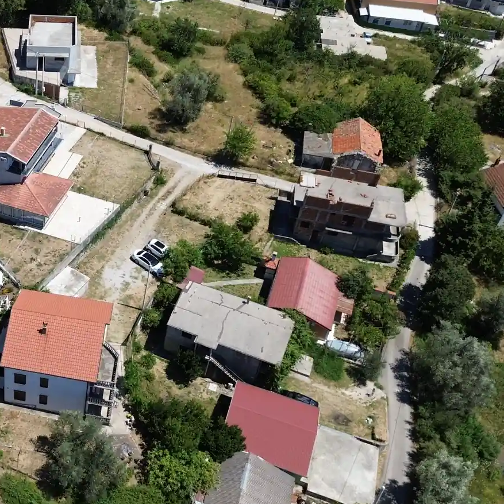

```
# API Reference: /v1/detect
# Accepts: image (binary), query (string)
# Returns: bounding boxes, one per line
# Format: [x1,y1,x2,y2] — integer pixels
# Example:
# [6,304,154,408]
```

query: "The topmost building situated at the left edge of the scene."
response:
[23,13,82,72]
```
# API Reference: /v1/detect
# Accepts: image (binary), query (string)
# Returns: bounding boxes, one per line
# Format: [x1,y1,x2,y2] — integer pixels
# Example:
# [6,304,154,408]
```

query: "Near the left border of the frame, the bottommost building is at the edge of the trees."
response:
[0,291,120,421]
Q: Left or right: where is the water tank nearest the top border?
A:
left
